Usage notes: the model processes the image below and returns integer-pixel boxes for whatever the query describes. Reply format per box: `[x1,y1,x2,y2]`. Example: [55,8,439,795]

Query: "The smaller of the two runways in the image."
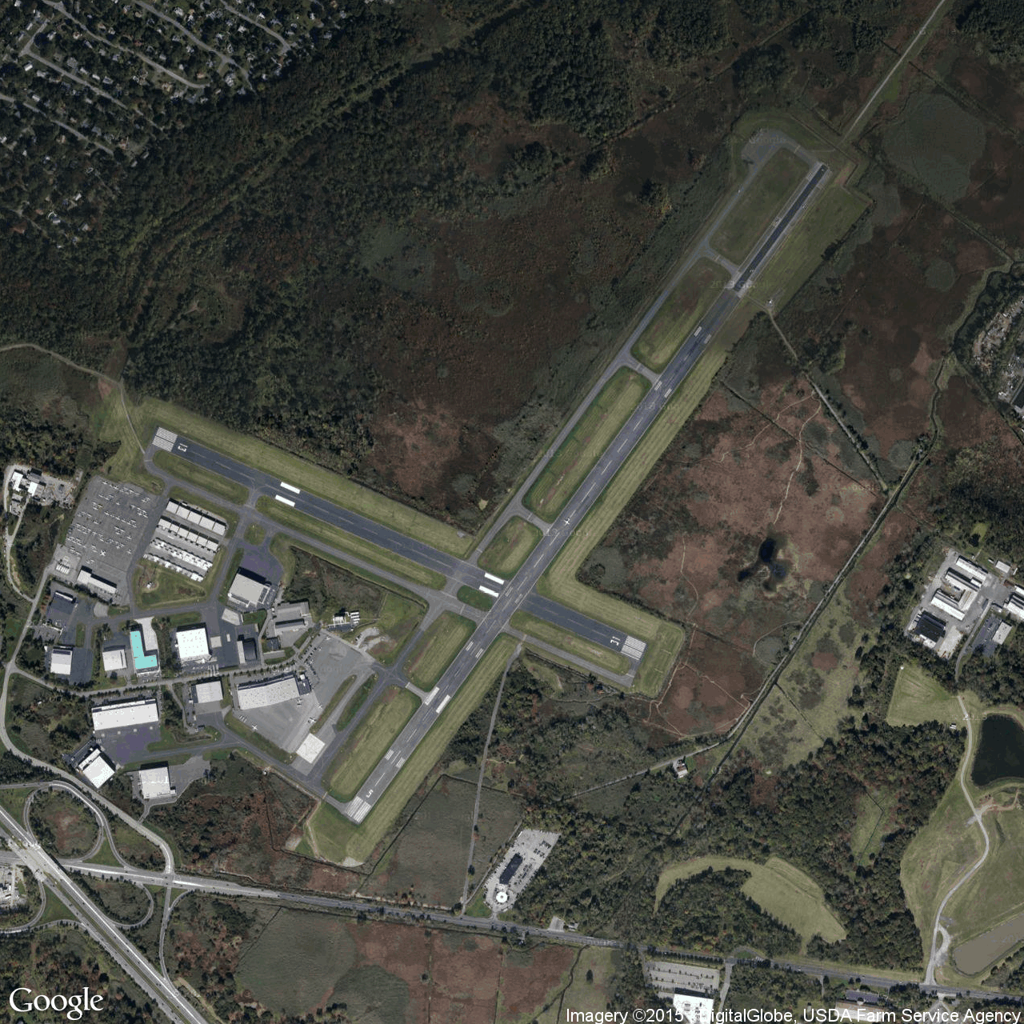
[149,426,650,662]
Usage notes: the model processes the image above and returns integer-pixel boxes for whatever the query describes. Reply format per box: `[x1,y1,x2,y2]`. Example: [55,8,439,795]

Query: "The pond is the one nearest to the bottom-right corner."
[953,914,1024,974]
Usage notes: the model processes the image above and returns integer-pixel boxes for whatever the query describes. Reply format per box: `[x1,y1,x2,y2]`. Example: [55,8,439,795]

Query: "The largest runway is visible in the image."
[344,163,832,823]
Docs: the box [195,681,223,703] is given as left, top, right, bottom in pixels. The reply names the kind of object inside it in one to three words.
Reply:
hangar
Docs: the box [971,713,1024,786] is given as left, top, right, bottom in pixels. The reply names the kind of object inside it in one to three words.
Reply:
pond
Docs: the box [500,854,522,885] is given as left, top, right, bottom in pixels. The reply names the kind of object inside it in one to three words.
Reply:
building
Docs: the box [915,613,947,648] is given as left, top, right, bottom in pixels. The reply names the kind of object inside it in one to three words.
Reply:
building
